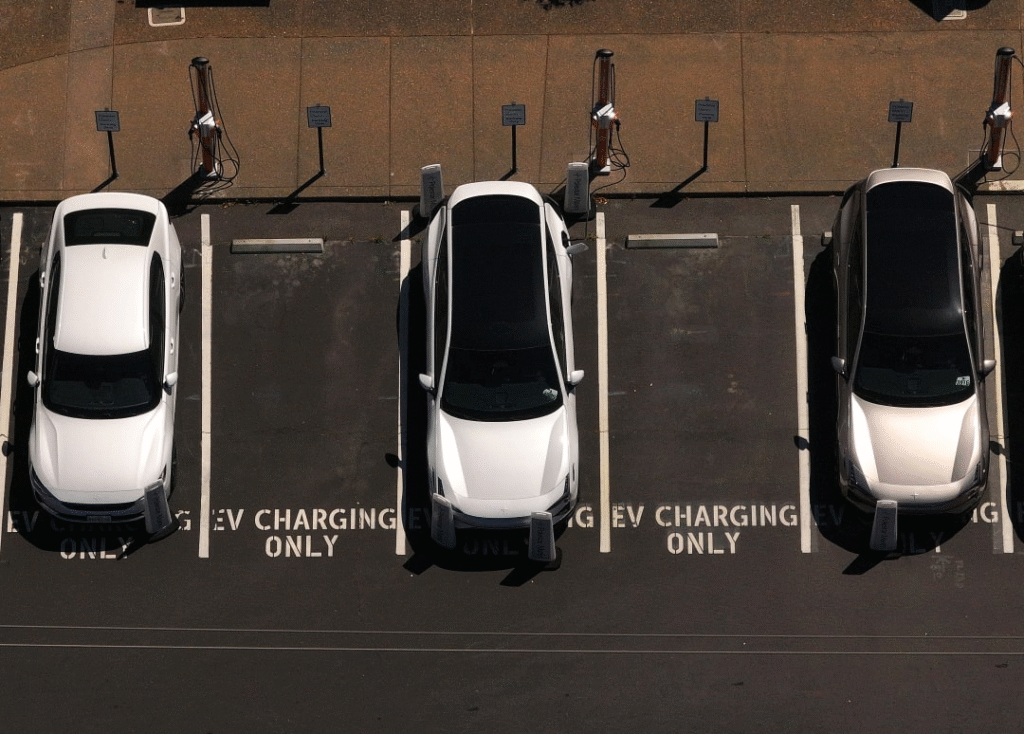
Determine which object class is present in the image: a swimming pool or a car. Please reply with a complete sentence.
Of the two, only a car appears.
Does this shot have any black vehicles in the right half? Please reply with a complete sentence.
Yes, looking in the right half, one can make out a black vehicle.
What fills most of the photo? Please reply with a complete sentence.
The largest share of the image is taken up by paved ground.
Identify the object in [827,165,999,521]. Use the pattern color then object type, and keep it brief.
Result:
black car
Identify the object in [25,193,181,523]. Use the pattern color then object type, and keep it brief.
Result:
white car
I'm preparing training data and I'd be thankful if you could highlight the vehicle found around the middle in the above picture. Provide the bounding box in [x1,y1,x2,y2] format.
[416,181,588,538]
